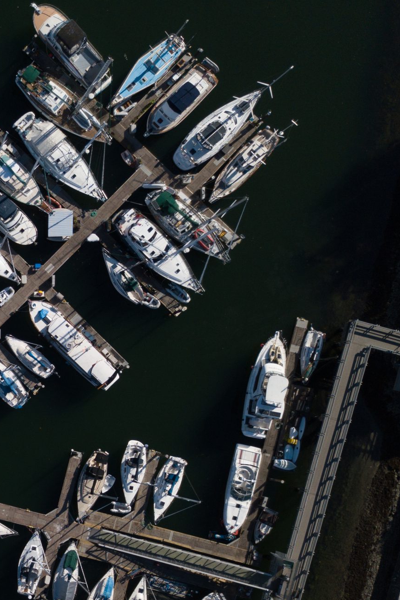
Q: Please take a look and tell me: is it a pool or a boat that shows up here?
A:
boat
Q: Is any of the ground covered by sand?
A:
Yes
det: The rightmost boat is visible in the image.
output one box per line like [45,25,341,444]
[299,329,338,382]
